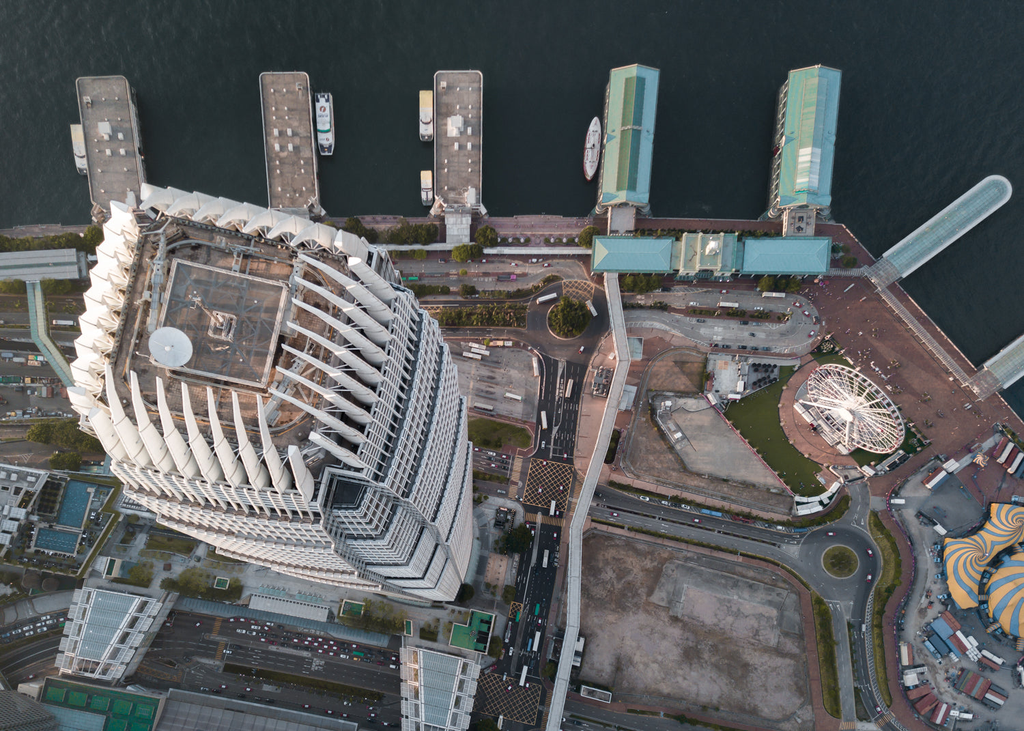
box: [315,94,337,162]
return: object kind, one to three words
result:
vessel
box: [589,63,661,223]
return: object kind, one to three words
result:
pier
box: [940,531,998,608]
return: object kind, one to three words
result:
tent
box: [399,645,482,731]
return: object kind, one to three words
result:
building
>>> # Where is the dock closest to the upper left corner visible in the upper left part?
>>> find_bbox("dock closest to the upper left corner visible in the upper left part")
[77,75,151,227]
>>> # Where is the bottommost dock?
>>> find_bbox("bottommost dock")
[974,338,1024,398]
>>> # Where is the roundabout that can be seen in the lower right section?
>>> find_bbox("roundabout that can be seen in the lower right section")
[821,543,858,579]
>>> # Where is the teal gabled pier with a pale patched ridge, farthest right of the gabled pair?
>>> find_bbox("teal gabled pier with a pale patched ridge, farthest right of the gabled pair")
[761,64,842,226]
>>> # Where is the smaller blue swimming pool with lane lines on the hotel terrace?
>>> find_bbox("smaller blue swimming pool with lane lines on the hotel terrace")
[32,527,82,555]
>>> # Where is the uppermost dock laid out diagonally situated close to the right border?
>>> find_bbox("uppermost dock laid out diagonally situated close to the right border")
[875,175,1013,284]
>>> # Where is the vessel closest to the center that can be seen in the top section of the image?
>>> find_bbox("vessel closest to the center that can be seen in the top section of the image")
[421,170,434,212]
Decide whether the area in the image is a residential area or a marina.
marina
